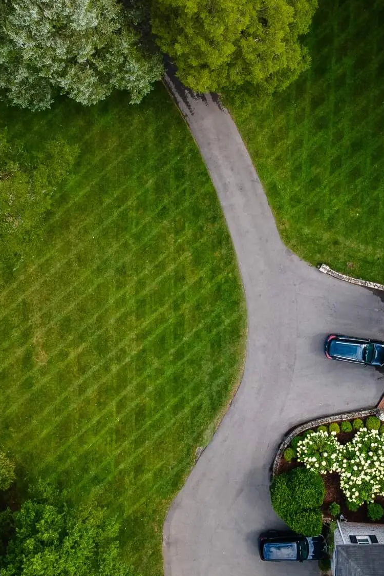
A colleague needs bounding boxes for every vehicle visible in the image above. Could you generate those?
[324,334,384,365]
[259,531,324,565]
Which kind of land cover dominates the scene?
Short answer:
grass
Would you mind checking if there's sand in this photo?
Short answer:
No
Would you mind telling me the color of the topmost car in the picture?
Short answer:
blue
